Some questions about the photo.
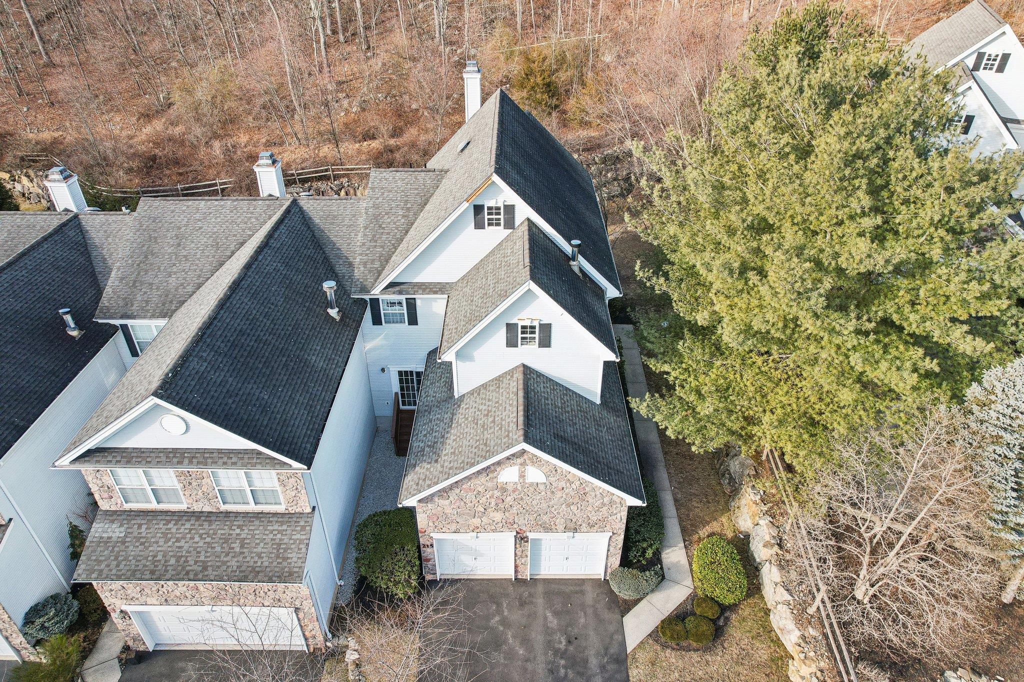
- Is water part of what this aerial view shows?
No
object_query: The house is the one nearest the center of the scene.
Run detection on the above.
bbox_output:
[348,61,650,581]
